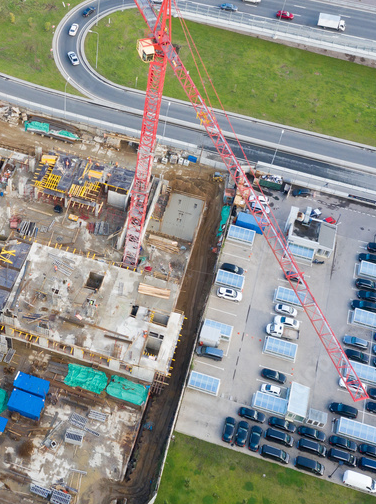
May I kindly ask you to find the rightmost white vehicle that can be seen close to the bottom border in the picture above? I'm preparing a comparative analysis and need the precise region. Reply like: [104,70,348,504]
[343,467,376,492]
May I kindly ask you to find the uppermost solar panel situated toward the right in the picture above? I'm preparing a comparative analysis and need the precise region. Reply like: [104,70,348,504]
[228,226,255,243]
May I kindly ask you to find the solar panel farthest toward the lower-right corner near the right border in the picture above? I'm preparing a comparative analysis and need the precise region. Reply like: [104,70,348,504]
[340,417,376,443]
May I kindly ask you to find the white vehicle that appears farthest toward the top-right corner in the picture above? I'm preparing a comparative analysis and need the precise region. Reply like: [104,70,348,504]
[316,10,346,27]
